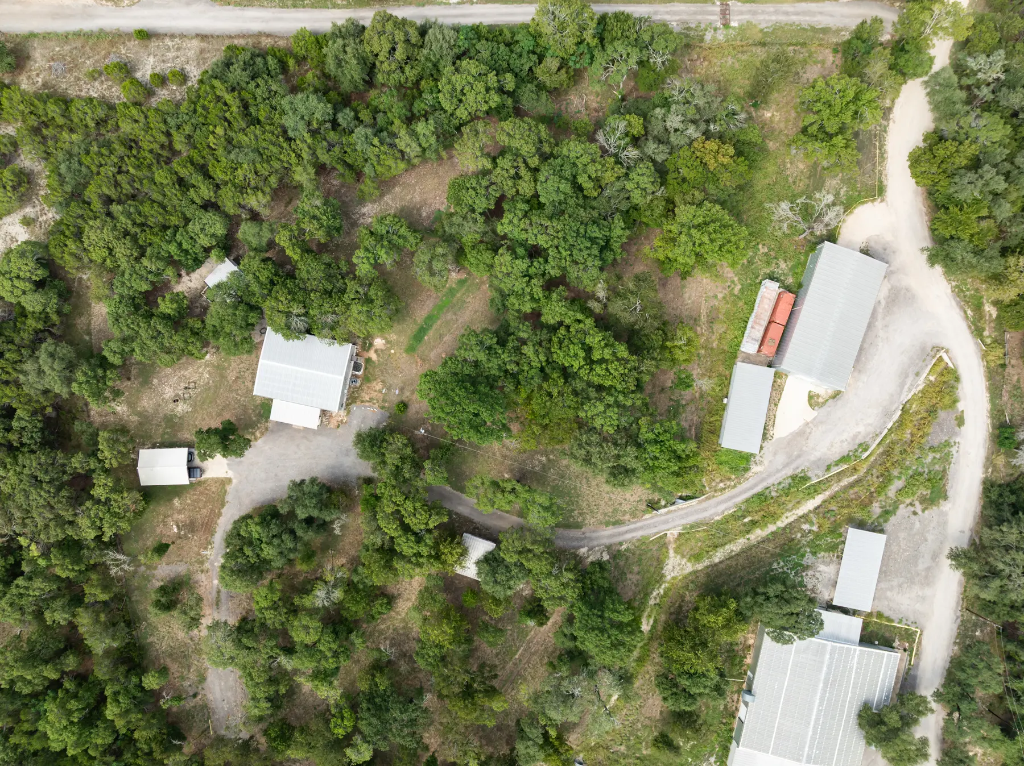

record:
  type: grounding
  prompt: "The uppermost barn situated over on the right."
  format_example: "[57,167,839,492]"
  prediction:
[771,242,888,390]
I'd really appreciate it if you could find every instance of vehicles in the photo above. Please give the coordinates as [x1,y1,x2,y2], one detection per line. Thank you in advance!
[187,468,201,479]
[187,452,193,463]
